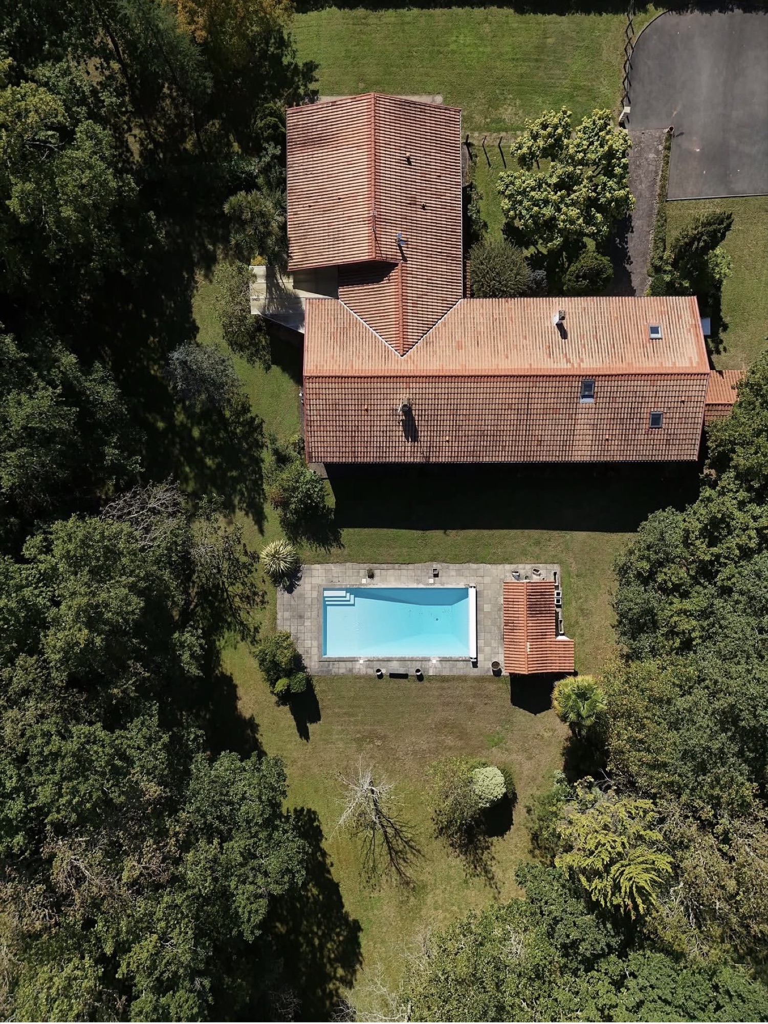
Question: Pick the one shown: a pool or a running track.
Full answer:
Visible in the photo is a pool.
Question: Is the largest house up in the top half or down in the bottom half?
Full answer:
The top half of the photo is where the largest house is.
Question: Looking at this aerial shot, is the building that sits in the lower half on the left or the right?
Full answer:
The building that sits in the lower half appears in the right half of the scene.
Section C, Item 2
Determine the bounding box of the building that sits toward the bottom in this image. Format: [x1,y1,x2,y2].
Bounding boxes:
[499,579,575,675]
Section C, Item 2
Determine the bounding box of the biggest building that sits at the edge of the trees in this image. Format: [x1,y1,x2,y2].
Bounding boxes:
[285,91,711,464]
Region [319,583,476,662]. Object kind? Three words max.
swimming pool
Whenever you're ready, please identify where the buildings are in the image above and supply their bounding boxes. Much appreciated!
[499,579,575,675]
[285,91,711,464]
